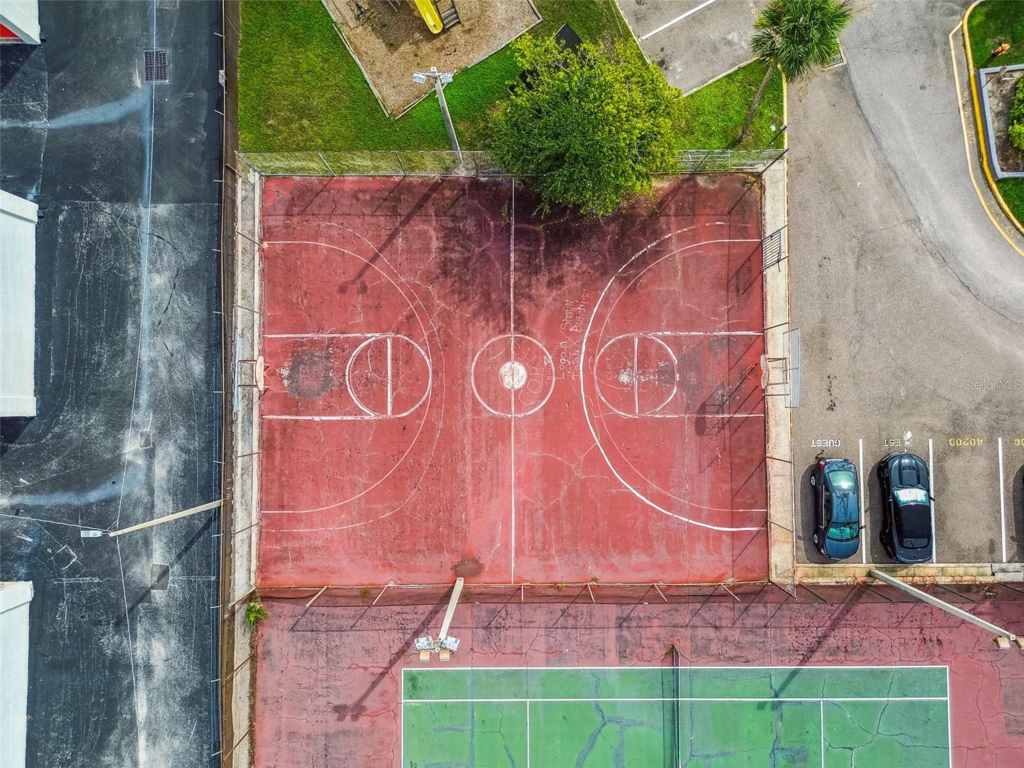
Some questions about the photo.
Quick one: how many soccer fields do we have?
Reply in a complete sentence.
Not a single soccer field can be seen.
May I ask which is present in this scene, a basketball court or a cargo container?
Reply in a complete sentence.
I can see a basketball court in this picture.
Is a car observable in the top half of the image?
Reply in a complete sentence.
No, in the top half of the image there is no car.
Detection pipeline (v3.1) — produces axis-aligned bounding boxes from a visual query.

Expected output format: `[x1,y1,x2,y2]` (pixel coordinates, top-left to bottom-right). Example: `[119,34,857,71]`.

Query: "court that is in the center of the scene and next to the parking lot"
[257,174,772,587]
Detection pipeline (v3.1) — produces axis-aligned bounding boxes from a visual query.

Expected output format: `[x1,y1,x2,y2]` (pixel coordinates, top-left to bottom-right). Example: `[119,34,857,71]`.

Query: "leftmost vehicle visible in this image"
[809,455,868,560]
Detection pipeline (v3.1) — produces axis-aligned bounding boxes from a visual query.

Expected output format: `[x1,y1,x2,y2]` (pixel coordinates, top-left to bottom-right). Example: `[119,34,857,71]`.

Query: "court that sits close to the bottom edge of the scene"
[254,580,1024,768]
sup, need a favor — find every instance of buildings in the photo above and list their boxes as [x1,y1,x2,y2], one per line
[0,582,32,768]
[0,0,45,44]
[0,187,43,418]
